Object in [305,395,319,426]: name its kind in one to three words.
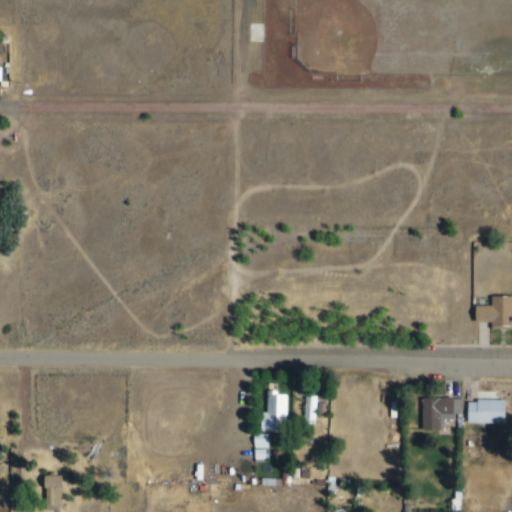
house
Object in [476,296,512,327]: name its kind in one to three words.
house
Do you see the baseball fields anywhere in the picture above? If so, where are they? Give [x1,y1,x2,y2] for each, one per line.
[249,0,512,90]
